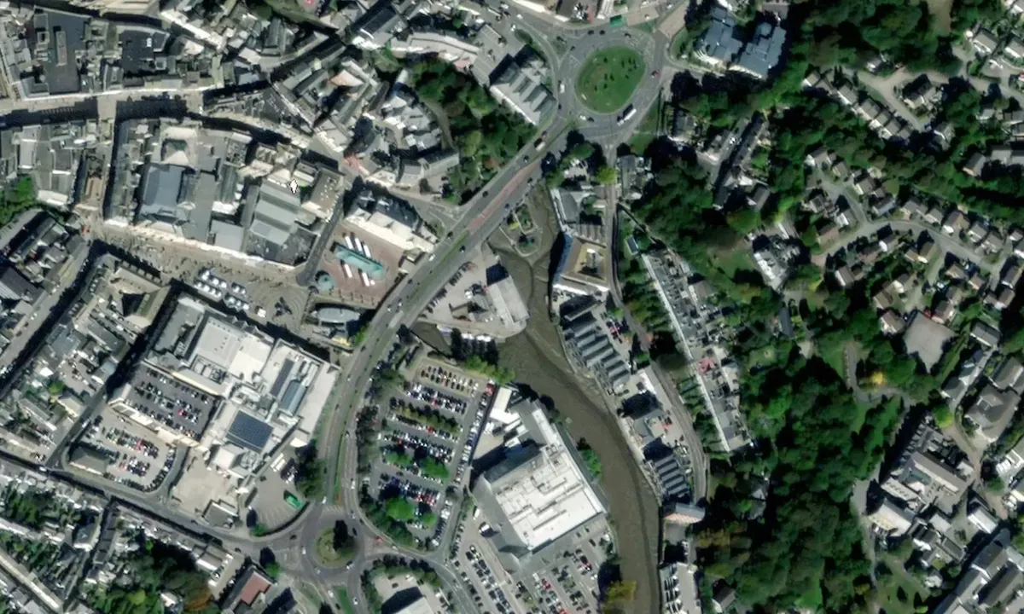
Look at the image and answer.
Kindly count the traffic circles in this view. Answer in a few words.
2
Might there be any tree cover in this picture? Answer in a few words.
Yes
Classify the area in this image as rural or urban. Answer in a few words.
urban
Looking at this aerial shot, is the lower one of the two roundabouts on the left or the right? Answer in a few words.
left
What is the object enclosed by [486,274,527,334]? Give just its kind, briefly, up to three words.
shed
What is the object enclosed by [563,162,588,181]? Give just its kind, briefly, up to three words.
house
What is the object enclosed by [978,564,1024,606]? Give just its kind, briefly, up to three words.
building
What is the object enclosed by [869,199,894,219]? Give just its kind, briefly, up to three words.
house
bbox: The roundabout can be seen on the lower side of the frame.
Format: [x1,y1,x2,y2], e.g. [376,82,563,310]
[301,511,370,581]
